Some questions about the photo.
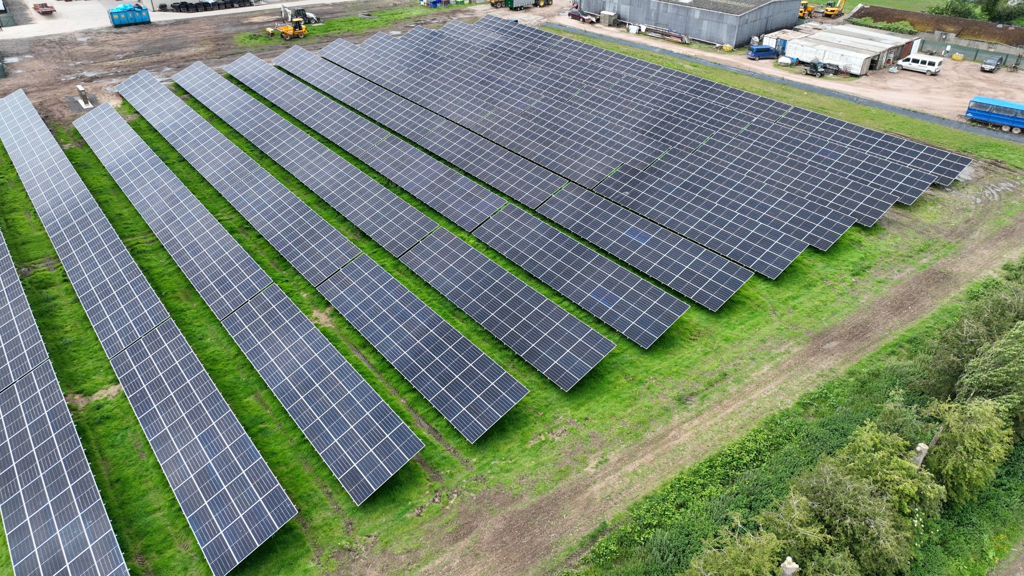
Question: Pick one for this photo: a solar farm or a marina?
solar farm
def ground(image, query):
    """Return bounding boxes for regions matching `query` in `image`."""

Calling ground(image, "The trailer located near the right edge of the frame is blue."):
[954,97,1024,134]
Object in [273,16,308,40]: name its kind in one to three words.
truck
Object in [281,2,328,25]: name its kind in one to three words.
work vehicle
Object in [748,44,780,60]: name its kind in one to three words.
vehicle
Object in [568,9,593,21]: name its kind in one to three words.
vehicle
